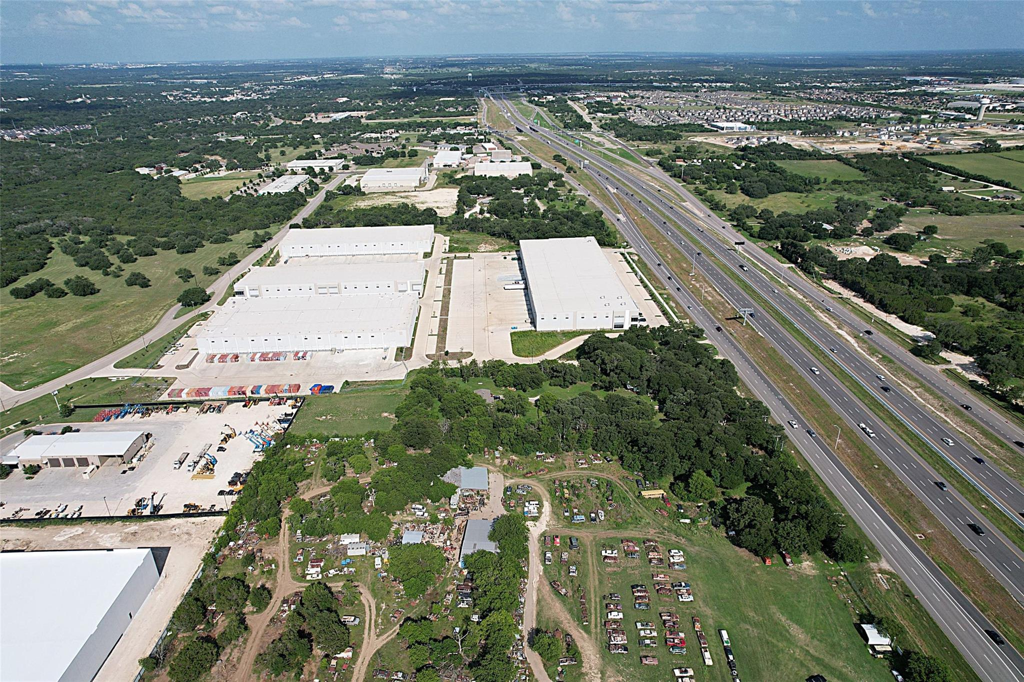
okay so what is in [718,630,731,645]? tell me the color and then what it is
white vehicle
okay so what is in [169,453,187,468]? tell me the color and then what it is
white vehicle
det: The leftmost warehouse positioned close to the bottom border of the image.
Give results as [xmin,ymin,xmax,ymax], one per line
[0,548,158,682]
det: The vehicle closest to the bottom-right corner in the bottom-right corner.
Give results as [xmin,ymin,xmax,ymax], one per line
[987,628,1004,644]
